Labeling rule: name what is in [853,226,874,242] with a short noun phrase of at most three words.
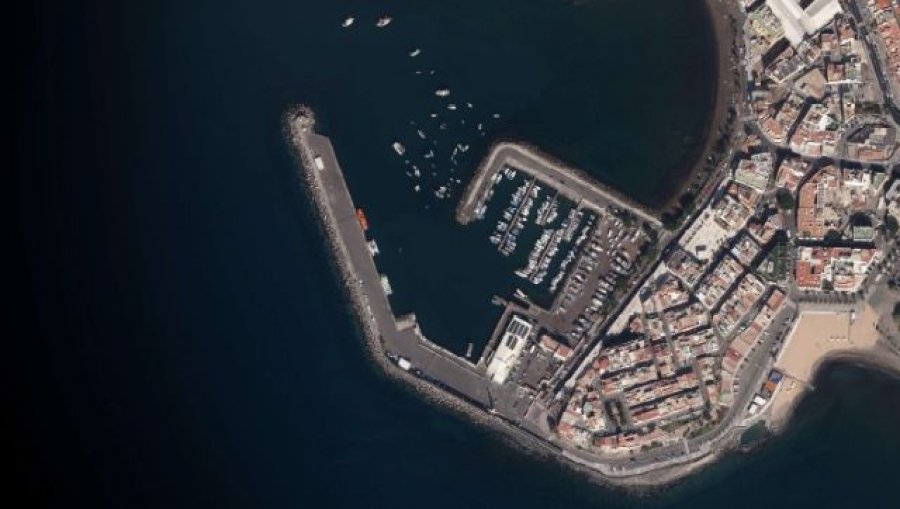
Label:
building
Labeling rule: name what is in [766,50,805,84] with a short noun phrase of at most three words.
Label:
building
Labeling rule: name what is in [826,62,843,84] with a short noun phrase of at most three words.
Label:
house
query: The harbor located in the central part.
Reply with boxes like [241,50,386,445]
[307,134,669,440]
